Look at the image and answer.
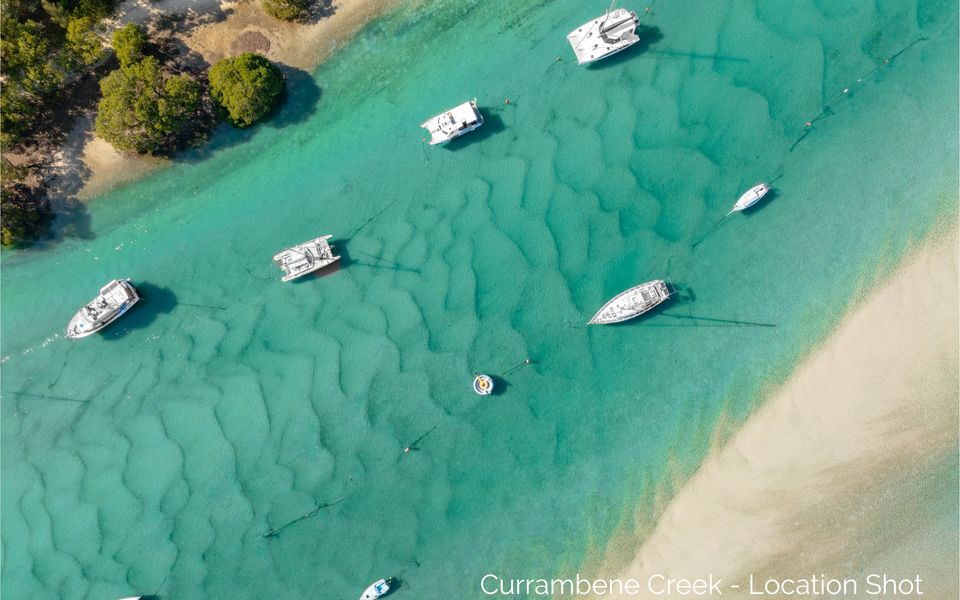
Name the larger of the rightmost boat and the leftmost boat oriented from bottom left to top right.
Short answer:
the leftmost boat oriented from bottom left to top right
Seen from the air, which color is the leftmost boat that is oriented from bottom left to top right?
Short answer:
white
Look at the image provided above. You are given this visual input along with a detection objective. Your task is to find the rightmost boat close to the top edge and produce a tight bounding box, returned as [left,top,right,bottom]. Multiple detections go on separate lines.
[566,0,643,68]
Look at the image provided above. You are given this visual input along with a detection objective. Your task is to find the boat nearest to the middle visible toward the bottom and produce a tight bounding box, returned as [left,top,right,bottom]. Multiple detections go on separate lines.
[473,374,494,395]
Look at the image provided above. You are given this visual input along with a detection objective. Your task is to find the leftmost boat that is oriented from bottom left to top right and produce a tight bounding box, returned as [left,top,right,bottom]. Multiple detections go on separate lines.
[62,278,148,340]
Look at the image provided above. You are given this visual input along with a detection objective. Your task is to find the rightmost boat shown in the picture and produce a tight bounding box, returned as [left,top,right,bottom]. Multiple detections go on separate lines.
[728,183,769,216]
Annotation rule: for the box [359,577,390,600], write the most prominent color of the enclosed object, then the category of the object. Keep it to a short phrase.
white boat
